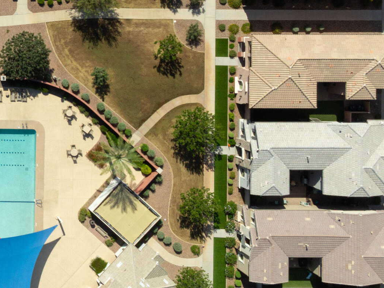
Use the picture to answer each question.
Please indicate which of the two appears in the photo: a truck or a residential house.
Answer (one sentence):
There is a residential house in the scene.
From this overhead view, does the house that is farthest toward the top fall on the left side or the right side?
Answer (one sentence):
The house that is farthest toward the top is on the right side of the image.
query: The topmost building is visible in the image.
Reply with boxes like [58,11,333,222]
[233,34,384,109]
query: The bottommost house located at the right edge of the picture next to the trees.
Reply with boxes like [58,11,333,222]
[232,206,384,288]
